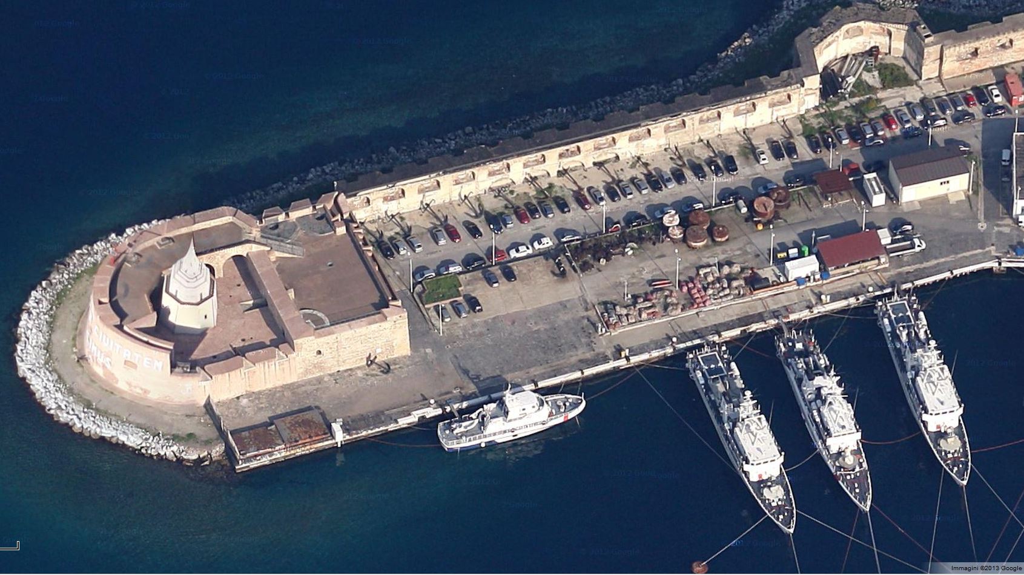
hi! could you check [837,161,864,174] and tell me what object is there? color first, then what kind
red vehicle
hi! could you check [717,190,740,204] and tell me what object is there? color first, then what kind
black car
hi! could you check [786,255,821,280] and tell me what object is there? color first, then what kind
white shipping container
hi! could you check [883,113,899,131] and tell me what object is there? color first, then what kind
red car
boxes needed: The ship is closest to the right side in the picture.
[878,285,968,485]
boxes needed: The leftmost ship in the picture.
[436,389,585,453]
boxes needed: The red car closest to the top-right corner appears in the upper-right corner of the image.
[962,91,980,109]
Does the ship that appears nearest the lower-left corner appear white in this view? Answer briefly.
Yes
